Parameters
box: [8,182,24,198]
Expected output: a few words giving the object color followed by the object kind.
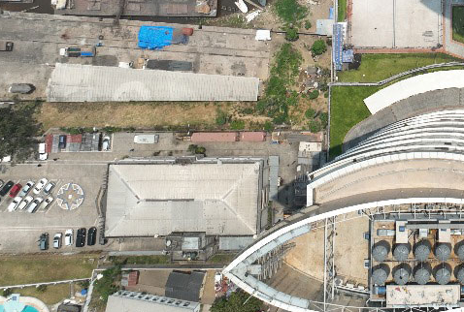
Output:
red car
